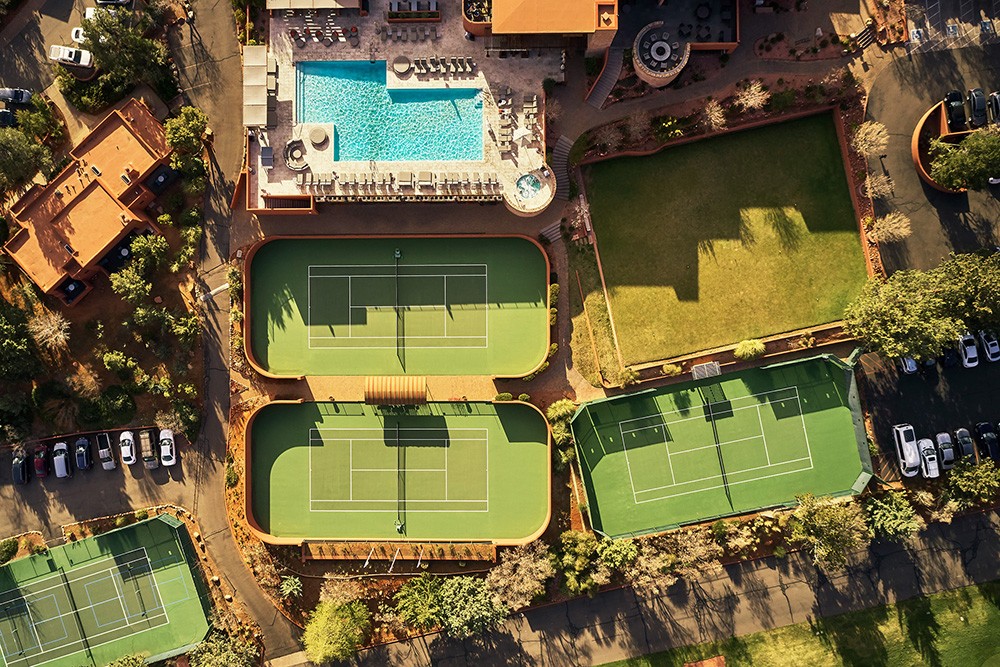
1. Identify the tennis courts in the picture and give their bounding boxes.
[252,243,548,376]
[252,402,548,540]
[0,512,207,667]
[572,356,859,530]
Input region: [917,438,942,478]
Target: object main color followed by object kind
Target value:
white car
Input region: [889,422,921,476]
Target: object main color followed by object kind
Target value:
white van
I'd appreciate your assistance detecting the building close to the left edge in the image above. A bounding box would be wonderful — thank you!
[6,98,181,307]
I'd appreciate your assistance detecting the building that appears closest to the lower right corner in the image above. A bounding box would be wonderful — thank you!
[688,358,722,381]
